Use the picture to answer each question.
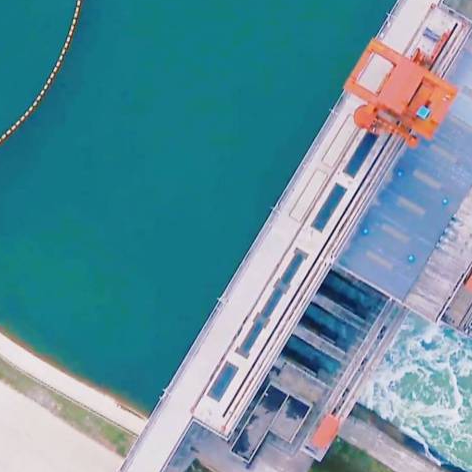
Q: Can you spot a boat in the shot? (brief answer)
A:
No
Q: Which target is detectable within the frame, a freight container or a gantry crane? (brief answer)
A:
gantry crane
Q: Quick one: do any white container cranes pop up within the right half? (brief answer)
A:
No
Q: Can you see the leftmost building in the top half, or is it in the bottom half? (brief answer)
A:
bottom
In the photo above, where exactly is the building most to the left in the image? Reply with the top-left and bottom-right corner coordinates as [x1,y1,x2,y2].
[231,383,290,462]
